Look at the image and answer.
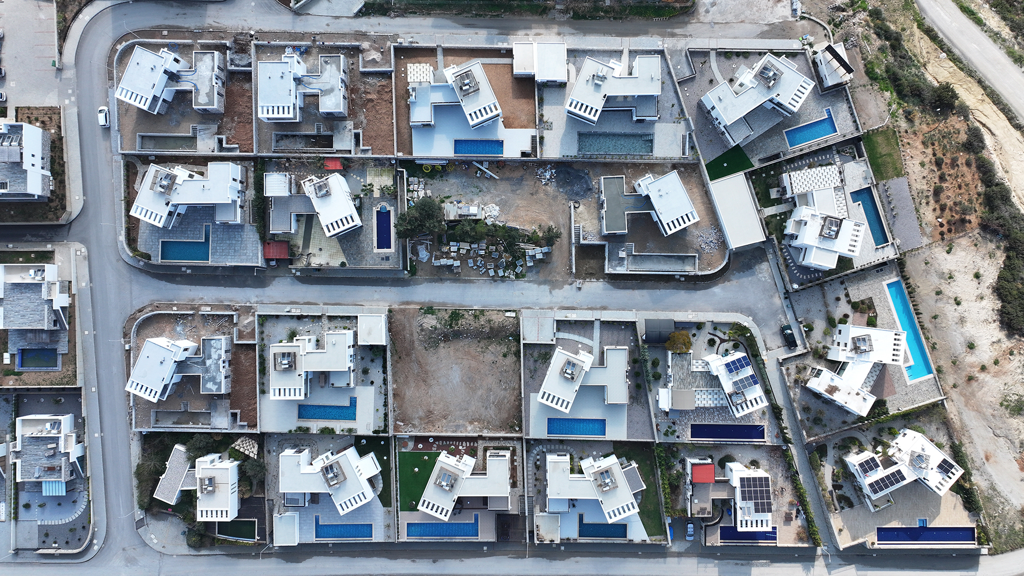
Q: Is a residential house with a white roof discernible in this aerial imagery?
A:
Yes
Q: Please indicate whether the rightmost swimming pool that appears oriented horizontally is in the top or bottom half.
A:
bottom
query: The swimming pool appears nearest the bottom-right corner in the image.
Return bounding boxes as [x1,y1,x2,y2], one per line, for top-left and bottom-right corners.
[876,517,977,543]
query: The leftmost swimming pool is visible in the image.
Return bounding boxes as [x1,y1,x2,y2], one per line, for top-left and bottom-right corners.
[15,346,59,370]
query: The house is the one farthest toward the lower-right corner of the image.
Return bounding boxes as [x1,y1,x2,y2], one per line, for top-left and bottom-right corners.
[842,428,964,511]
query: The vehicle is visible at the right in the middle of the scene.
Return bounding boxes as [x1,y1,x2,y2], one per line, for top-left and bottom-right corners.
[782,323,799,350]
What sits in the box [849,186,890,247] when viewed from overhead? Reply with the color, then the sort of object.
blue swimming pool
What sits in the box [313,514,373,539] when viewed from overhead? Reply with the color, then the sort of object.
blue swimming pool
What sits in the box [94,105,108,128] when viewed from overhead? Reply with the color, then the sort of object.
white car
